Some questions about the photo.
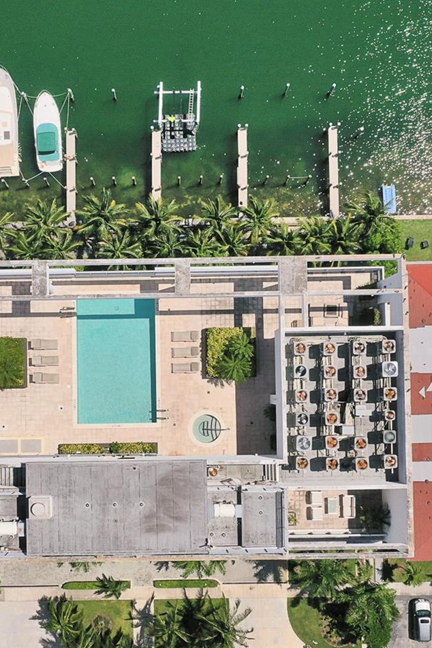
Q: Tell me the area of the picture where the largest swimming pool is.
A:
left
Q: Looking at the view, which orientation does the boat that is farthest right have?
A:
up and down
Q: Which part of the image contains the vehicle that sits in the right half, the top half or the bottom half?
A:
bottom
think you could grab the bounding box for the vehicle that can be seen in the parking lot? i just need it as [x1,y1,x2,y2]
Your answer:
[410,598,431,642]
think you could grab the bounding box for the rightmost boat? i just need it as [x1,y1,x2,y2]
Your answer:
[33,89,63,173]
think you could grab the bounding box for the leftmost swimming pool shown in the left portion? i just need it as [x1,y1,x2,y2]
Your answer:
[65,293,168,429]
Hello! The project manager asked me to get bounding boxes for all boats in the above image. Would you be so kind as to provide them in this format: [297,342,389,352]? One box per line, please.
[0,67,21,180]
[33,89,63,173]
